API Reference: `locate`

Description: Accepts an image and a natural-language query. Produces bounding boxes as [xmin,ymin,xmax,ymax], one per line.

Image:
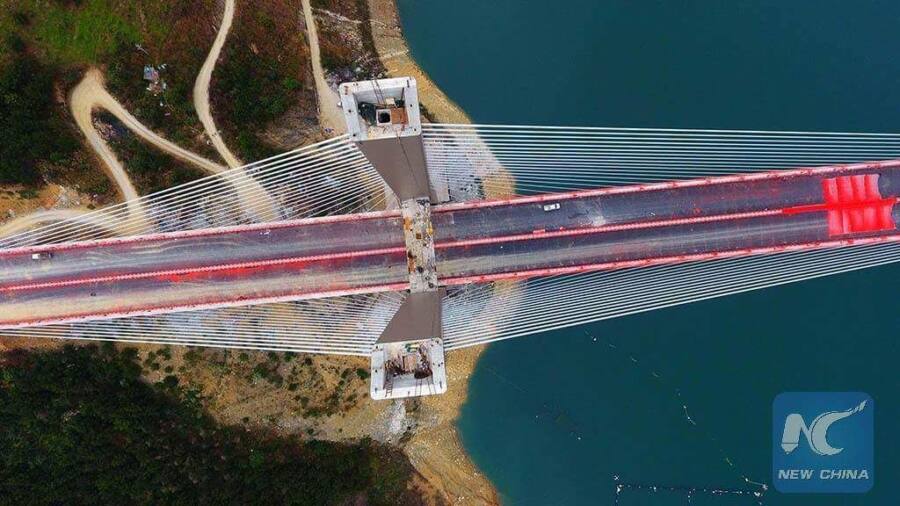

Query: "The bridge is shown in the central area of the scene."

[0,80,900,401]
